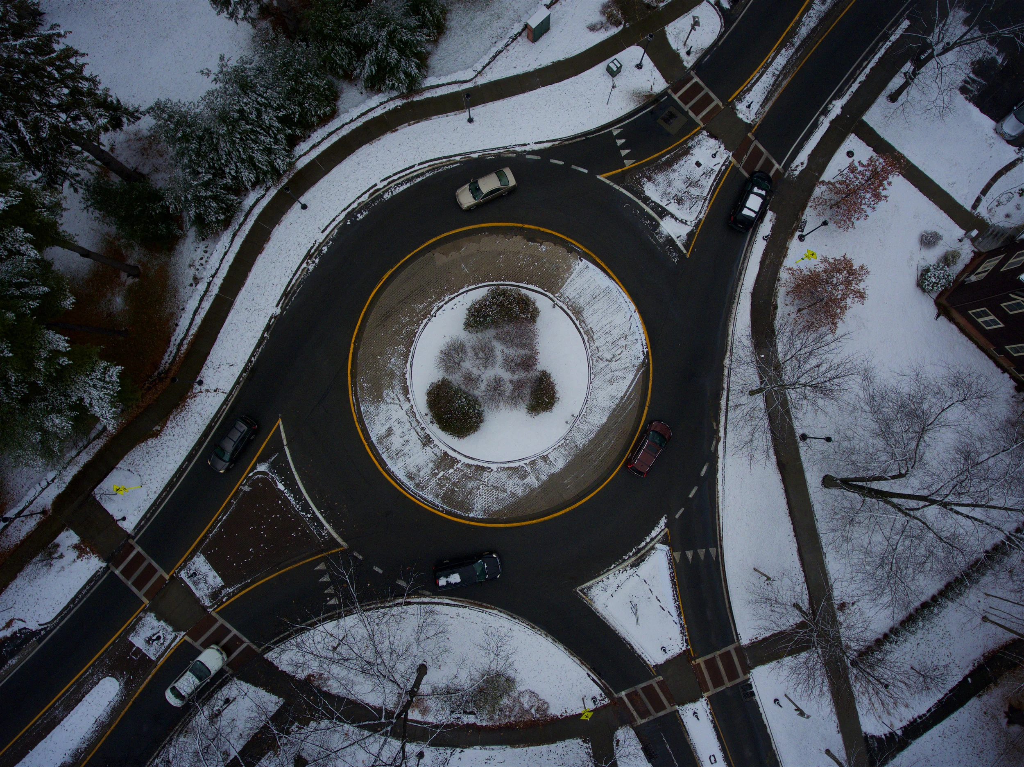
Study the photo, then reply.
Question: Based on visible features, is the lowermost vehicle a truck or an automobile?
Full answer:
It looks like the lowermost vehicle is an automobile.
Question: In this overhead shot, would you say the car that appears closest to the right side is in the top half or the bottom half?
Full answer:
You can find the car that appears closest to the right side in the top half.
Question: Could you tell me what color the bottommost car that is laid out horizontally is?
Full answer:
The color of the bottommost car that is laid out horizontally is black.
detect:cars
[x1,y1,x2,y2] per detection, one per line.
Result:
[728,168,773,233]
[162,644,229,710]
[996,96,1024,139]
[207,413,260,473]
[626,420,671,479]
[431,554,502,594]
[457,167,517,208]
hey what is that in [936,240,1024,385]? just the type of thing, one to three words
house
